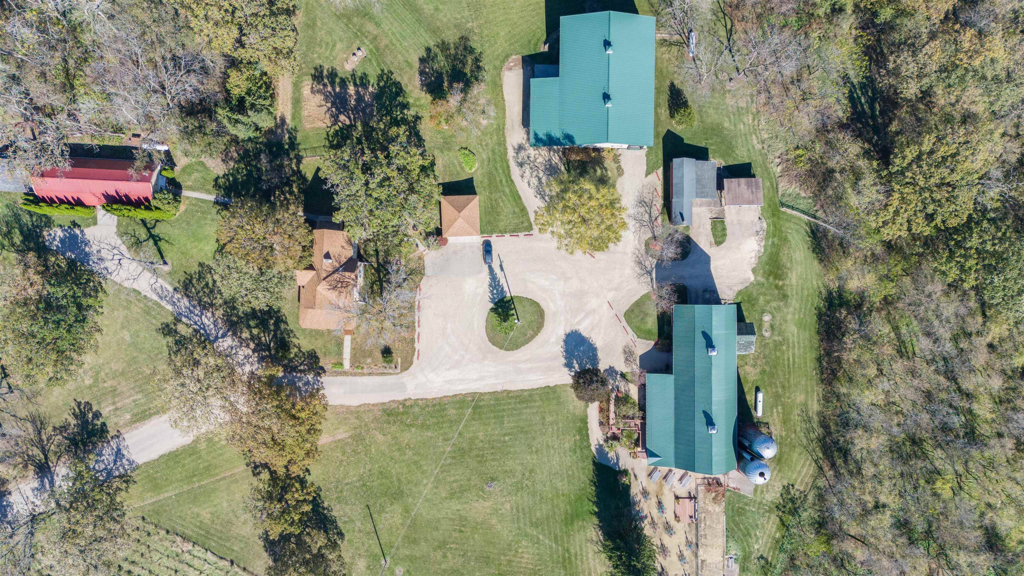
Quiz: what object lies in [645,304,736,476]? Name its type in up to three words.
barn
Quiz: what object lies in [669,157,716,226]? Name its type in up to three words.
shed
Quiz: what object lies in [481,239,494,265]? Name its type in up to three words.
vehicle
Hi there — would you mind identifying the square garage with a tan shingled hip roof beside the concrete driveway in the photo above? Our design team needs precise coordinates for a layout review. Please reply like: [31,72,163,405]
[442,195,480,236]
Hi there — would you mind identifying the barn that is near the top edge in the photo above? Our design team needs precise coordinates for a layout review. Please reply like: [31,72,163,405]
[529,8,653,150]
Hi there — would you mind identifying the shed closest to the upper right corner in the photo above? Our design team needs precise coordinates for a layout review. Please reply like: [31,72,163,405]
[721,178,764,207]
